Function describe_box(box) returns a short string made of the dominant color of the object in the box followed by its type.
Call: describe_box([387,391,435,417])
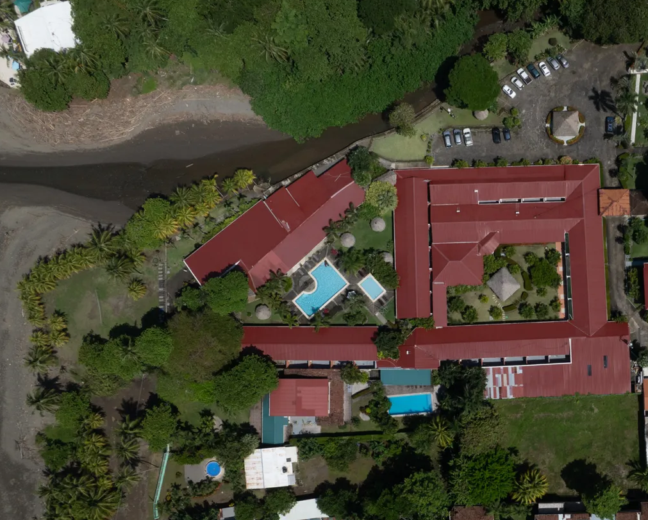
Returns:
blue swimming pool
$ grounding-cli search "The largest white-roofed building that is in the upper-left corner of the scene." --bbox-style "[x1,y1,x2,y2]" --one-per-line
[15,2,80,59]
